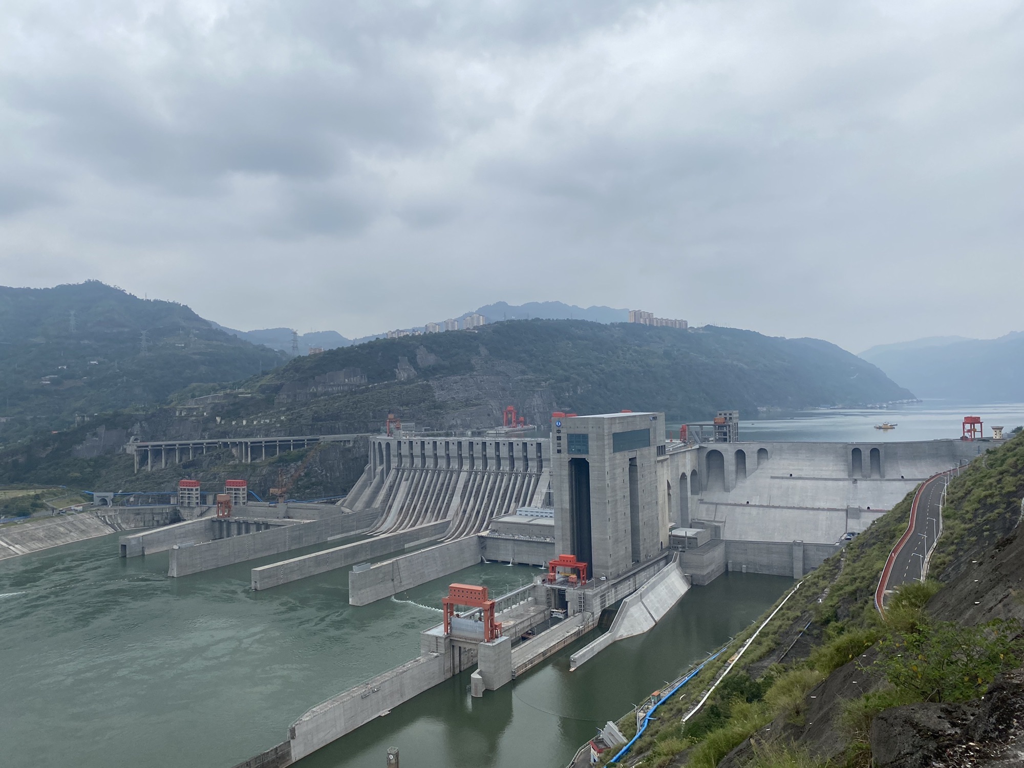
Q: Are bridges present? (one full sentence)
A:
Yes, the frame does contain a bridge.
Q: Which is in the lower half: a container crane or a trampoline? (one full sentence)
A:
There is a container crane in the lower half.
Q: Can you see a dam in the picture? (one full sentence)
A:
Yes, a dam can be made out from above.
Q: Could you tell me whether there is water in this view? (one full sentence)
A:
Yes, some water is visible.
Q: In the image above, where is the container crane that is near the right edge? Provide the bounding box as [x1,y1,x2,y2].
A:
[955,416,983,440]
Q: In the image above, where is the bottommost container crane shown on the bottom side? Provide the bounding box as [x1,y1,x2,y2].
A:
[441,582,499,642]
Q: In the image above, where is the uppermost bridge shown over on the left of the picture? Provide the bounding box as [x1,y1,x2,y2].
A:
[123,433,370,470]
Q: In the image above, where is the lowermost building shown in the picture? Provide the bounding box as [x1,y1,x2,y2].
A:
[580,739,609,768]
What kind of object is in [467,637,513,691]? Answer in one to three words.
pier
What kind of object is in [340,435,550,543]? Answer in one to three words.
dam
